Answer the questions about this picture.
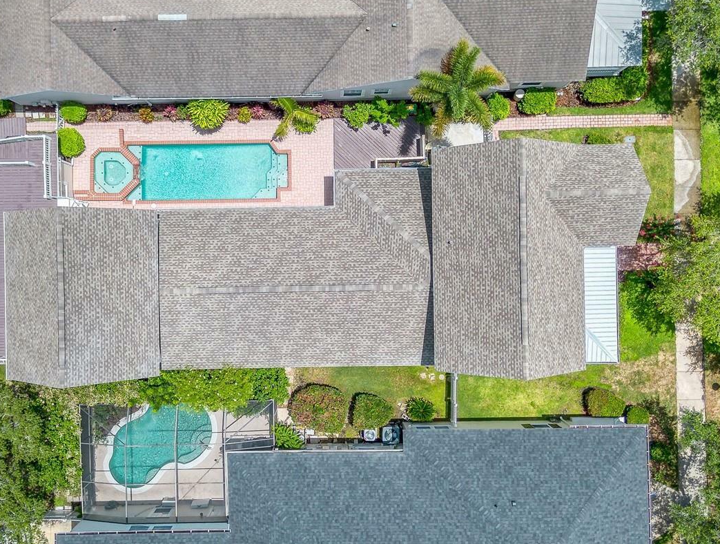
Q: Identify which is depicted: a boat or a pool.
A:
pool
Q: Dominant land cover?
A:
buildings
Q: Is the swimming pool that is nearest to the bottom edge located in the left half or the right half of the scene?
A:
left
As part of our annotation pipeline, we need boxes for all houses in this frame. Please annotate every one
[0,0,666,103]
[53,416,654,544]
[3,139,651,387]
